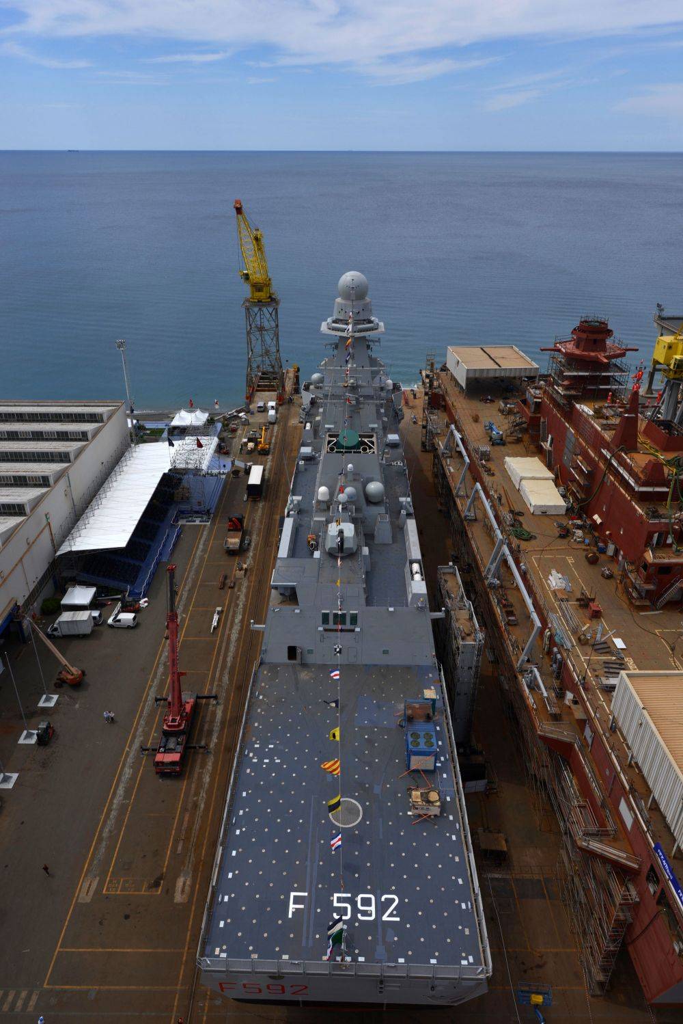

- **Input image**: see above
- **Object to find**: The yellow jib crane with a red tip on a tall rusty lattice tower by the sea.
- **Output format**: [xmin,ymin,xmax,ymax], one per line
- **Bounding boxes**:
[229,196,289,409]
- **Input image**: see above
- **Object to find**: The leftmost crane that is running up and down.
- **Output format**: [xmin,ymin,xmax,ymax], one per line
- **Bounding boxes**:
[141,559,222,778]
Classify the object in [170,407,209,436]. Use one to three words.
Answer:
tent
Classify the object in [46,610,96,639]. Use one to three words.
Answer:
truck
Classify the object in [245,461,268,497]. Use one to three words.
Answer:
trailer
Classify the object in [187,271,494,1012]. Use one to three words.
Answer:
ship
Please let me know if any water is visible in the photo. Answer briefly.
Yes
